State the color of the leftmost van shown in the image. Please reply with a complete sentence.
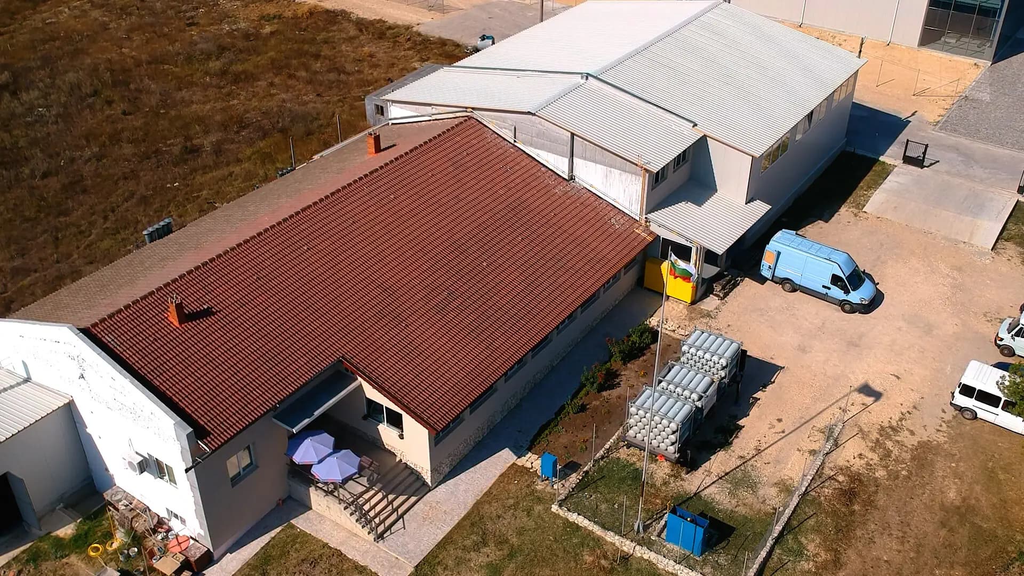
The leftmost van looks blue in the image.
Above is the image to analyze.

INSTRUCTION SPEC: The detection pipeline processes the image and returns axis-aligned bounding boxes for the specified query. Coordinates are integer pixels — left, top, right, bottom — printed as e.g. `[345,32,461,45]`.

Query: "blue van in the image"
[755,231,878,314]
